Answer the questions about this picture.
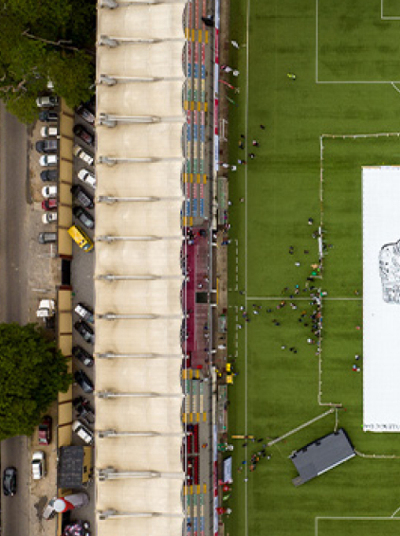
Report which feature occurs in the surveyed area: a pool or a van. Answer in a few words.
van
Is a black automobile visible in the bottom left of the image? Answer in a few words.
Yes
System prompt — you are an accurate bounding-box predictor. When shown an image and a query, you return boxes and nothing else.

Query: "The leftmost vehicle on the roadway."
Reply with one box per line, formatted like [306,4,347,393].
[2,466,20,496]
